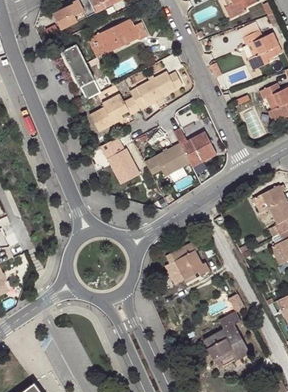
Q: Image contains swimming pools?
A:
Yes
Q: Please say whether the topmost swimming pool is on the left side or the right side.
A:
right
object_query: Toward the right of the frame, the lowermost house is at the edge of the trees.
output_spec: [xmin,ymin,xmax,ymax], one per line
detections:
[204,316,248,366]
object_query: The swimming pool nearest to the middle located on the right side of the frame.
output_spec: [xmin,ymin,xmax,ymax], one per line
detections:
[174,176,195,193]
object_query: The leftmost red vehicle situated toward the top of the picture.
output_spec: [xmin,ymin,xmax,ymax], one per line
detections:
[22,106,38,138]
